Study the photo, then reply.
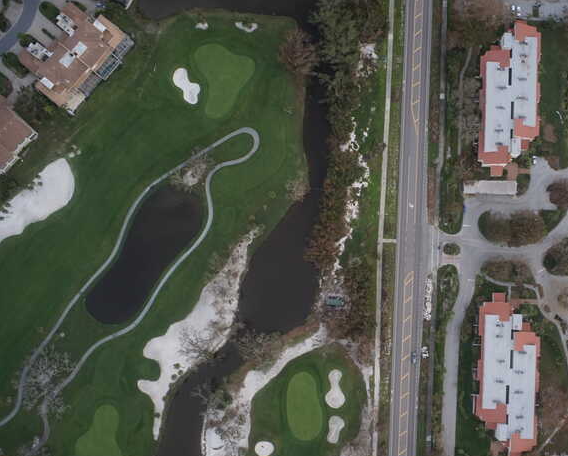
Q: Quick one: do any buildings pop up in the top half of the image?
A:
Yes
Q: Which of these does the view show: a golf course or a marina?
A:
golf course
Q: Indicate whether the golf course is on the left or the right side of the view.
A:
left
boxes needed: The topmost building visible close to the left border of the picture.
[21,2,136,112]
